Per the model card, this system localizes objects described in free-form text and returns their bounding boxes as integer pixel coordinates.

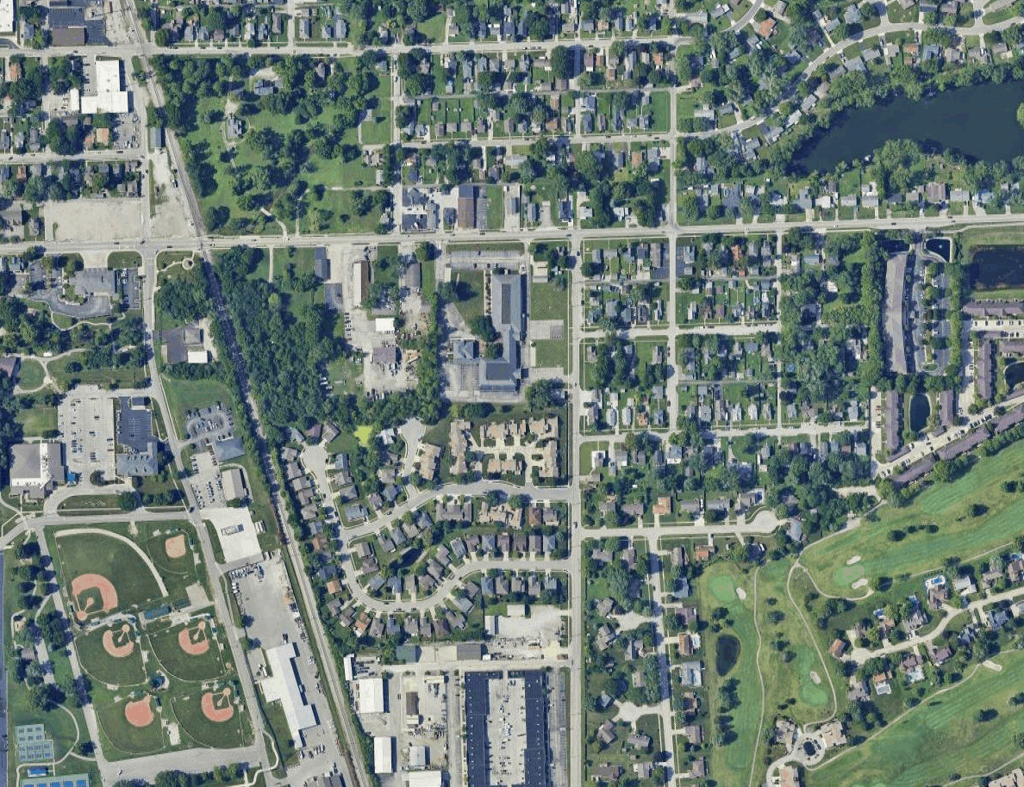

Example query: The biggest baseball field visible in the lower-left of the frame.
[55,529,168,630]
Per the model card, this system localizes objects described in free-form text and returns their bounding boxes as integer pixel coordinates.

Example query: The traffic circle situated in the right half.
[790,731,827,769]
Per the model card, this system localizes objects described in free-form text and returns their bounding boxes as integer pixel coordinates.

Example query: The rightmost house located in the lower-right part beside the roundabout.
[819,718,850,749]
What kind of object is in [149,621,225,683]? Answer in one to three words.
baseball field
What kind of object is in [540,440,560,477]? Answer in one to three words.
house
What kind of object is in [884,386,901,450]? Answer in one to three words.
building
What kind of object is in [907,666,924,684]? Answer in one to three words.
swimming pool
